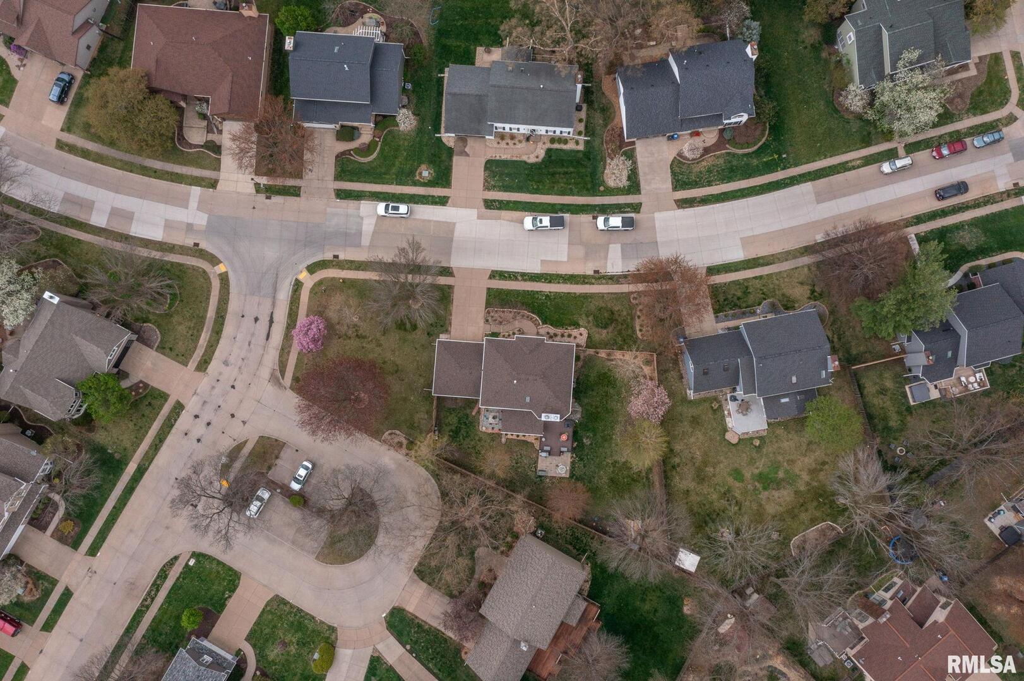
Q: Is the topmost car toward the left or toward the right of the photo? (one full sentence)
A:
You can find the topmost car on the left side of the picture.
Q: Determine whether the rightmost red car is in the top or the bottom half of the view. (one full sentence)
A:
The rightmost red car is in the top half of the image.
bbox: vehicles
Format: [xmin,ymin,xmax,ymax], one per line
[524,215,564,231]
[247,487,271,519]
[878,155,912,175]
[291,459,313,491]
[47,72,74,105]
[969,129,1004,150]
[929,139,966,161]
[596,215,635,231]
[0,609,23,636]
[932,181,967,202]
[379,202,410,218]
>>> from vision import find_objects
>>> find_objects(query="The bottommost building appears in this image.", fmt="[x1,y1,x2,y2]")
[161,633,241,681]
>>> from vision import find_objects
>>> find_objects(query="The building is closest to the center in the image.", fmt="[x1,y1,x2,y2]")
[427,335,578,436]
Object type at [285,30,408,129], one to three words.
house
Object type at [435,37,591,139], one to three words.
house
